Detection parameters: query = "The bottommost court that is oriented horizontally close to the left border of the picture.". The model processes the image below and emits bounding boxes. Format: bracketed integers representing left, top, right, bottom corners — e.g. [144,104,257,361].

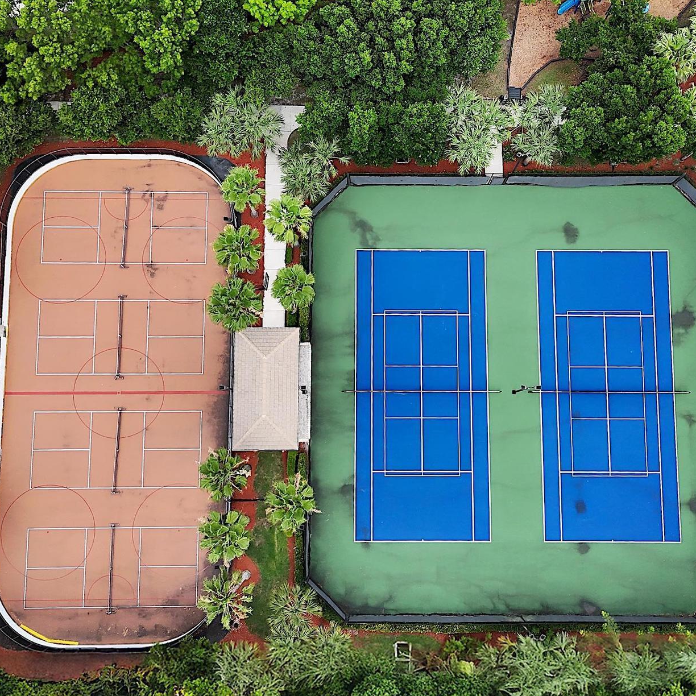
[24,527,199,608]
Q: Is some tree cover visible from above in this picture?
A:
Yes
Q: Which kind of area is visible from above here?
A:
sports ground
